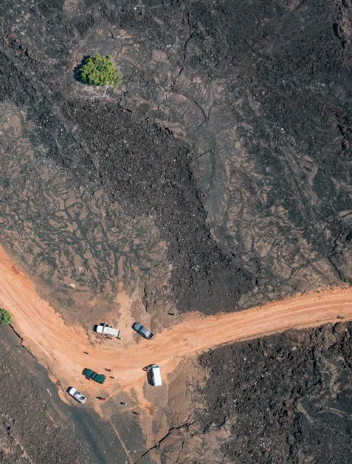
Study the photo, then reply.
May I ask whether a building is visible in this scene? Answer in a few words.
No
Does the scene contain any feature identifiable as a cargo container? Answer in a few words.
No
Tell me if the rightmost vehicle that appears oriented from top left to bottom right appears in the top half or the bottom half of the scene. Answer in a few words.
bottom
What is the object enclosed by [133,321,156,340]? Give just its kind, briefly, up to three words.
vehicle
